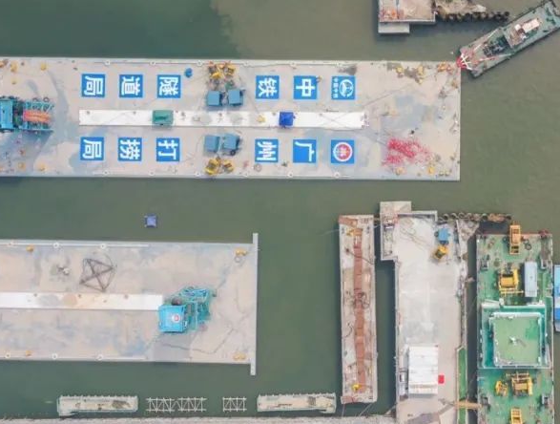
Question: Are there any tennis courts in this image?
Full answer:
No, I can see no tennis court in this picture.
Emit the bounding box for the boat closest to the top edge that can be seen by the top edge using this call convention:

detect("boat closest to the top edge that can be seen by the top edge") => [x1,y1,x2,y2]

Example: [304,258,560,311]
[459,1,560,77]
